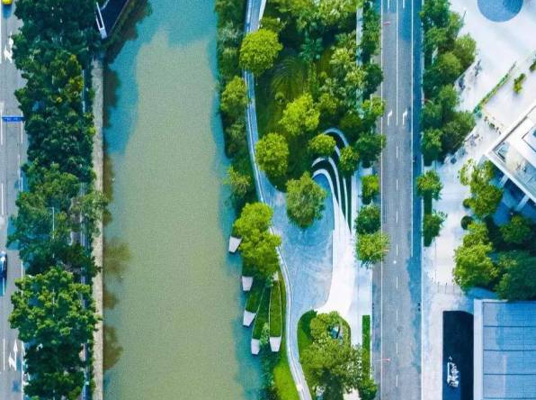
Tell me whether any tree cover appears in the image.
Yes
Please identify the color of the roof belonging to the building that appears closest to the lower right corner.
blue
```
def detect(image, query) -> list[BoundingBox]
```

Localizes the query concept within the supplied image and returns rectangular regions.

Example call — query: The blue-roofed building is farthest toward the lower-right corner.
[475,301,536,400]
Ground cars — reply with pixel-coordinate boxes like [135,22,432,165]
[1,0,12,13]
[0,252,7,279]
